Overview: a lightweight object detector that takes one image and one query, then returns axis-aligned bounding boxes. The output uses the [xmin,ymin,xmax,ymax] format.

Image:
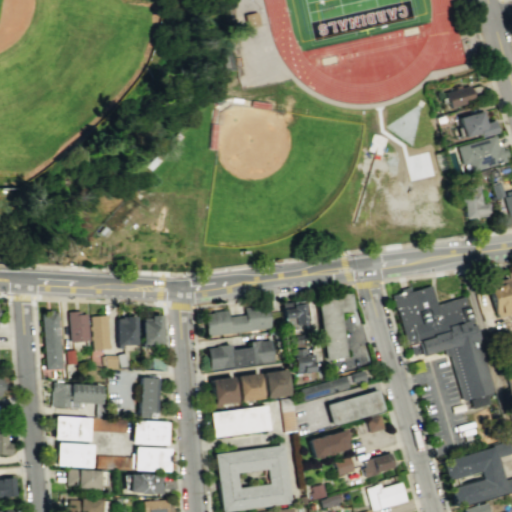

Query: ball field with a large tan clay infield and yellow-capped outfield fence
[206,96,364,247]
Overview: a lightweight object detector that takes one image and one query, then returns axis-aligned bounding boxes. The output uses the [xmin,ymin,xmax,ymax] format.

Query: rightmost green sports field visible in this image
[288,0,432,51]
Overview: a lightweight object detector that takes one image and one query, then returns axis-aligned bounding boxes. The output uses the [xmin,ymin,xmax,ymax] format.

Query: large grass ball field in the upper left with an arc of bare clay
[0,0,156,186]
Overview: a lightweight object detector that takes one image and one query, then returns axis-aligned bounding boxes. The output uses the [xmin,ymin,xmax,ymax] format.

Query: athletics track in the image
[260,0,469,108]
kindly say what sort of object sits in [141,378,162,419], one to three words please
building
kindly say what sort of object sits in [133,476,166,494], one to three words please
house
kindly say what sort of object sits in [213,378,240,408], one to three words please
house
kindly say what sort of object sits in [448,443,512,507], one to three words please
building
